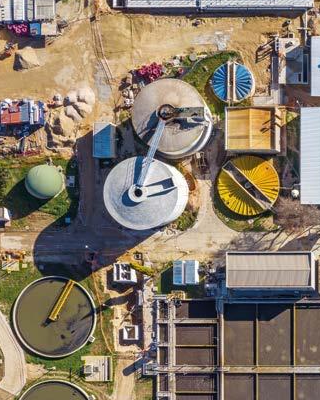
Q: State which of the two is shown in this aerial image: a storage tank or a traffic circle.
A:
storage tank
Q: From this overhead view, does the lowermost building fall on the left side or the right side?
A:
left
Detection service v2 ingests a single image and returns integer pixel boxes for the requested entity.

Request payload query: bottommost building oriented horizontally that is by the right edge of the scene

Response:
[225,250,316,289]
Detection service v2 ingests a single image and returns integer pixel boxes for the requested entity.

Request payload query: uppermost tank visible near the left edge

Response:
[12,275,97,358]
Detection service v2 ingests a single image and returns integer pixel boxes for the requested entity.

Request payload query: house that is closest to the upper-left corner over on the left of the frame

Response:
[93,122,117,158]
